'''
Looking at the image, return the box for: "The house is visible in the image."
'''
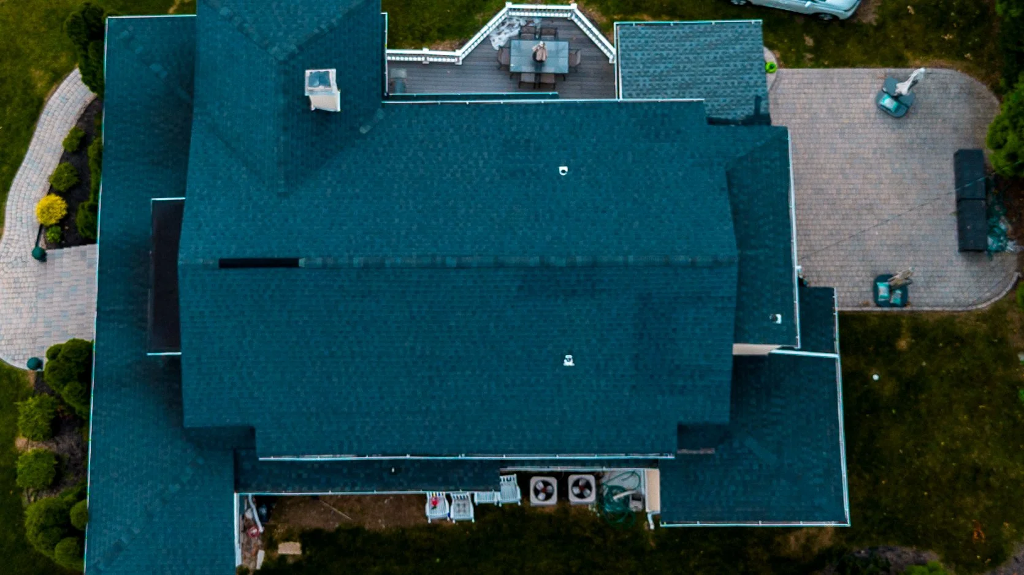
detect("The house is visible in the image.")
[83,0,851,575]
